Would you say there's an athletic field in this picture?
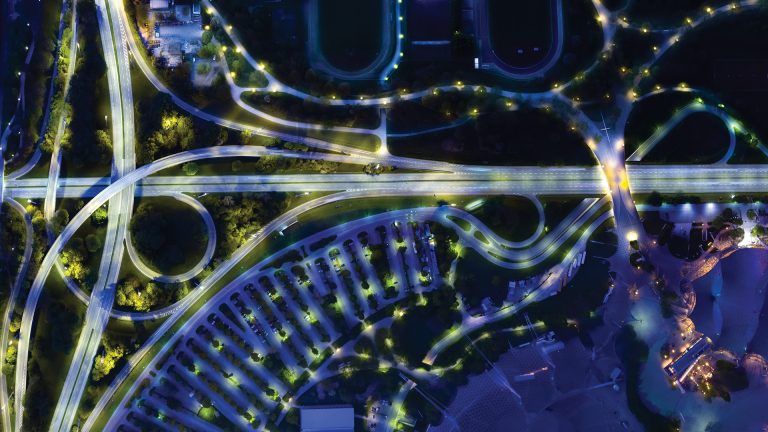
Yes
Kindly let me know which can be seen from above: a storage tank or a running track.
running track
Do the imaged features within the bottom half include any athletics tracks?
No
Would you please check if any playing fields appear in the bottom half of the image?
No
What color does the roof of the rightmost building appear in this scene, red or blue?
blue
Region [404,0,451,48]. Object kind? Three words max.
sports court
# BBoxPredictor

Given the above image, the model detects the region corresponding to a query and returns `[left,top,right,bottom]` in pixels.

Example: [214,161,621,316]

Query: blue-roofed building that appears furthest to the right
[664,337,712,382]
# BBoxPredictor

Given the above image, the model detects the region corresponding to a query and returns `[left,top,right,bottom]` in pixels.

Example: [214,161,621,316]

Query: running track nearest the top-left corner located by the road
[308,0,392,80]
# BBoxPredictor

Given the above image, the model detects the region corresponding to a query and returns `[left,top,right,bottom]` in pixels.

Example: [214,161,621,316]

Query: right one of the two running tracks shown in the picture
[478,0,563,78]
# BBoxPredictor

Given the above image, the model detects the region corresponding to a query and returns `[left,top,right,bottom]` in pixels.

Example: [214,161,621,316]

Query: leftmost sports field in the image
[318,0,382,70]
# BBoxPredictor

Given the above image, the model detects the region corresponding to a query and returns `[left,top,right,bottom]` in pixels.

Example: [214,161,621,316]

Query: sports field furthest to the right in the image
[488,0,553,68]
